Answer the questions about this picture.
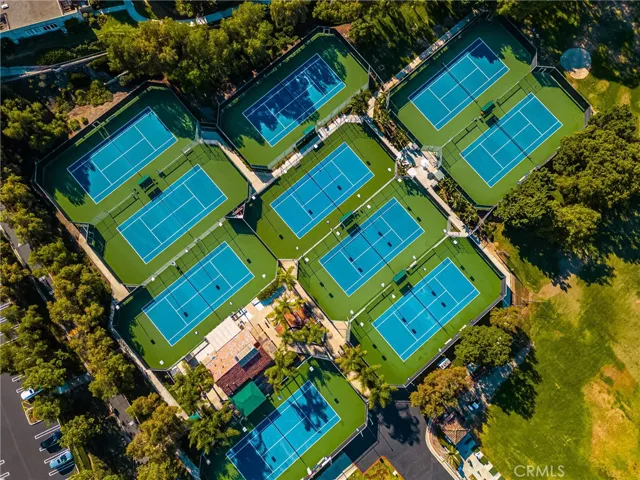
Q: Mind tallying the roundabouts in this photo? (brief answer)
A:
none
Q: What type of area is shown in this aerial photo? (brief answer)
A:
sports ground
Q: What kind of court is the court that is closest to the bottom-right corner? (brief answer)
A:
tennis court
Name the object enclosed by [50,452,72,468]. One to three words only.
car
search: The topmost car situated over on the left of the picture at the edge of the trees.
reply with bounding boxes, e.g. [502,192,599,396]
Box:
[20,385,43,398]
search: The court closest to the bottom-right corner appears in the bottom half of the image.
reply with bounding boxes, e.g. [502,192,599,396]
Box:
[350,238,501,385]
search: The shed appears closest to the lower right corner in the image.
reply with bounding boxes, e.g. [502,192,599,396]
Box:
[441,419,469,444]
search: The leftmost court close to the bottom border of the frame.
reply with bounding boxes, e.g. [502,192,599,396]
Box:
[203,359,366,480]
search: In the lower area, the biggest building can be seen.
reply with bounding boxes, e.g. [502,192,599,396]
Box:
[204,329,273,397]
